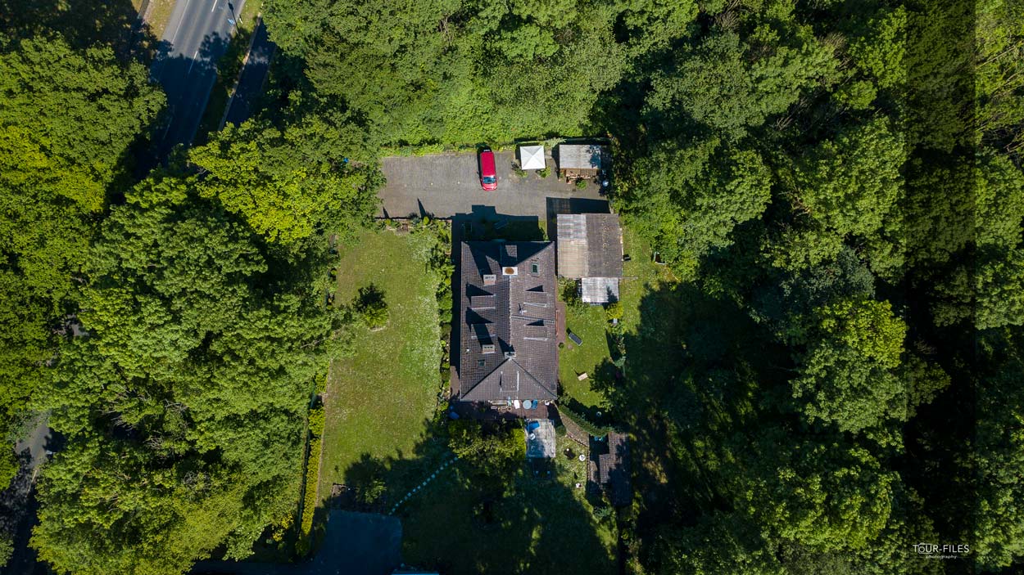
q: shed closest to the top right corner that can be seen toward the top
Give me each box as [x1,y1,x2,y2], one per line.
[559,144,601,180]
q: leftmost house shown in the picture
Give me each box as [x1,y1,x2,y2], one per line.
[458,232,558,402]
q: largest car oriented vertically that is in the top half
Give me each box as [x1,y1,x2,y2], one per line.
[479,146,500,192]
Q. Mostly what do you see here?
trees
